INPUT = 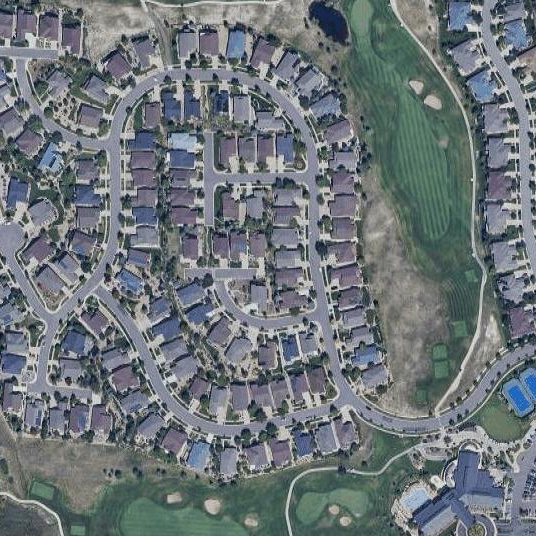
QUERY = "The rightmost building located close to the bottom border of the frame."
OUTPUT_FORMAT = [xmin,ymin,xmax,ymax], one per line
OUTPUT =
[411,452,505,535]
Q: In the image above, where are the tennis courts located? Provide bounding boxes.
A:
[503,380,533,417]
[519,368,536,404]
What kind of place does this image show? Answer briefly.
residential area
